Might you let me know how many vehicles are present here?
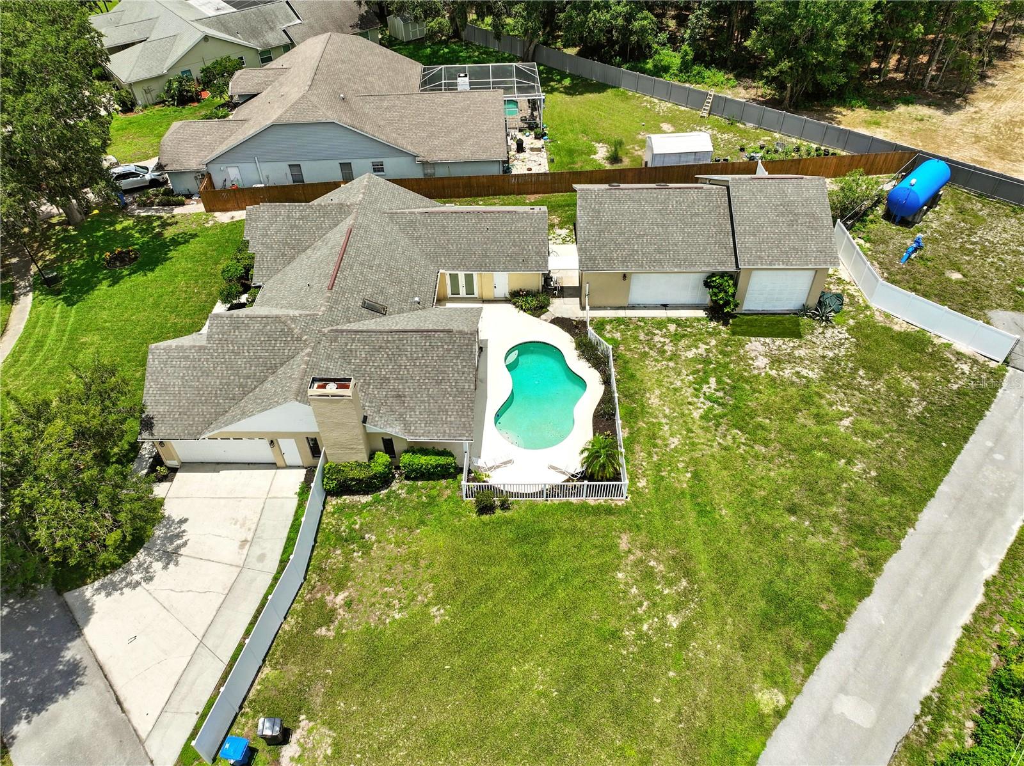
2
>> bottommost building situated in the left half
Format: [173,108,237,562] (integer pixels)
[139,173,549,471]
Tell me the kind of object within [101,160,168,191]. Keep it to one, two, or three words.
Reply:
car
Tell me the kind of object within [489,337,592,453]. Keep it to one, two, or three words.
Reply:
swimming pool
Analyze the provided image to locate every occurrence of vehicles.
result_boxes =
[101,160,168,191]
[79,141,128,167]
